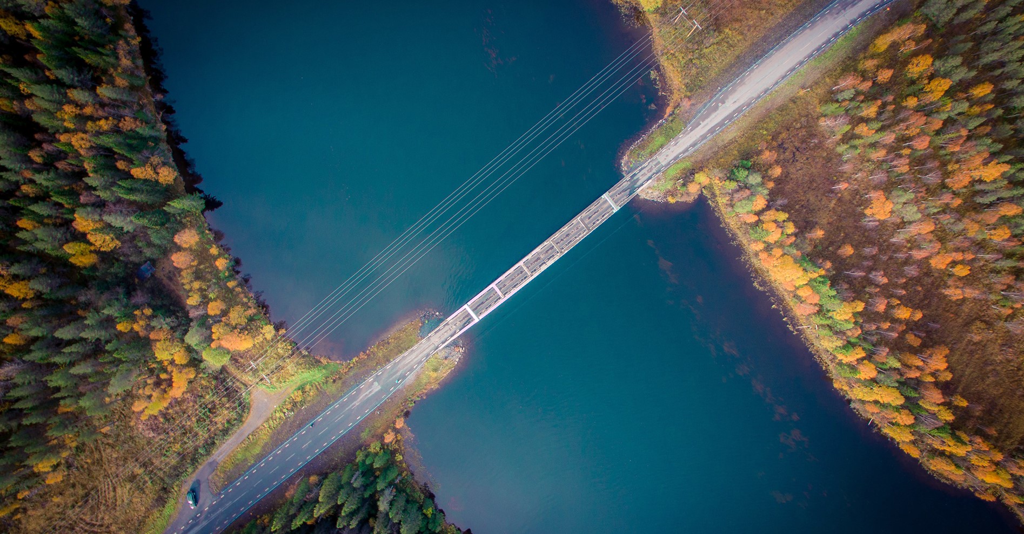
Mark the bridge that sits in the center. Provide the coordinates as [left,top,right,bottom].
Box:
[429,165,650,353]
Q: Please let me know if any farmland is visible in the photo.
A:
No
